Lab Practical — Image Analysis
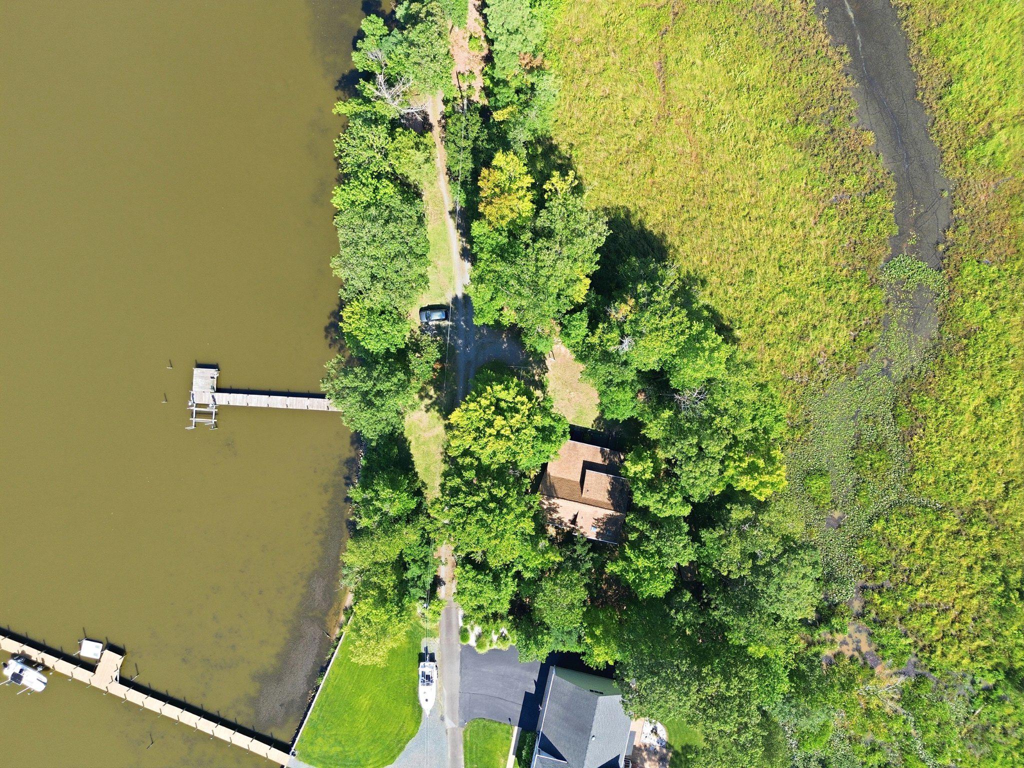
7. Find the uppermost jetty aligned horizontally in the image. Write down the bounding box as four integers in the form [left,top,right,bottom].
[187,368,365,413]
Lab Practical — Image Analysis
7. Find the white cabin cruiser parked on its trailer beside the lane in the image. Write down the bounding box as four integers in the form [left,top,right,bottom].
[418,654,438,717]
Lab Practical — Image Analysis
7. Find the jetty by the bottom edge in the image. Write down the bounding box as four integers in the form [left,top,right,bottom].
[0,635,292,766]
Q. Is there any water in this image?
Yes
